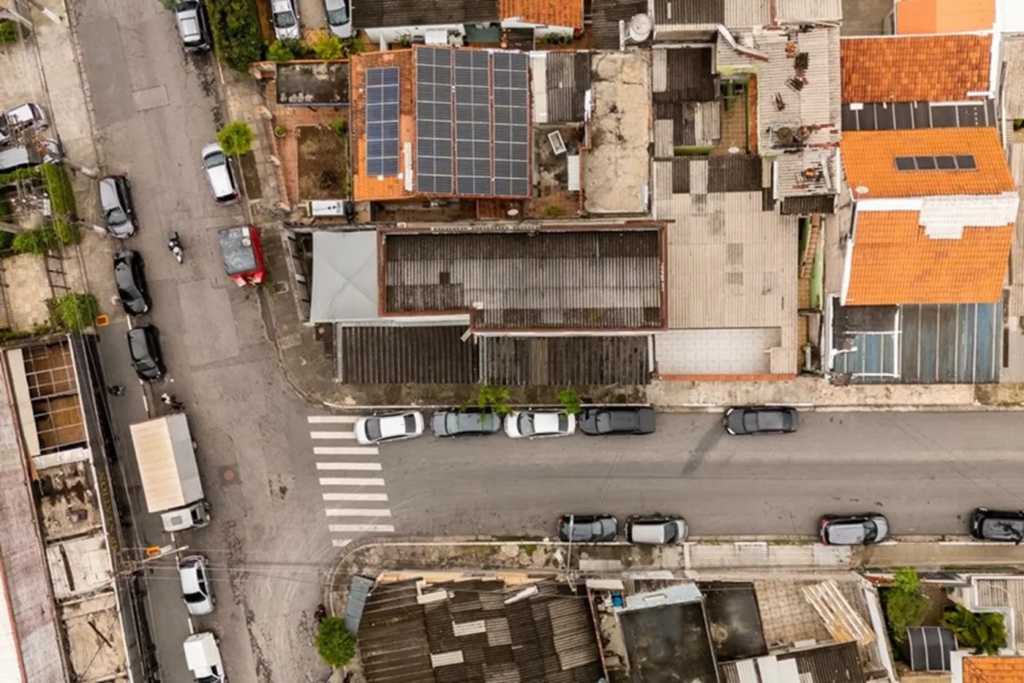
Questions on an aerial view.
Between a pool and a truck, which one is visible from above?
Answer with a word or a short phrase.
truck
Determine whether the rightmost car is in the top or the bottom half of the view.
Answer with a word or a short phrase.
bottom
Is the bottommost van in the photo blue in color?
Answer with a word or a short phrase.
No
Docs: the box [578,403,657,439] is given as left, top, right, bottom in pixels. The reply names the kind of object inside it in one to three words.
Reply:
truck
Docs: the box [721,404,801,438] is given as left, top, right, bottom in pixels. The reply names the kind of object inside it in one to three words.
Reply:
car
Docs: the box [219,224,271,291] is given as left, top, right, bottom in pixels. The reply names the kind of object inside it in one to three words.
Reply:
van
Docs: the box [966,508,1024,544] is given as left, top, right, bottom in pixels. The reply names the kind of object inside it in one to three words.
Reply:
car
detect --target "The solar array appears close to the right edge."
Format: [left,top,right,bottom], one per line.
[895,156,977,171]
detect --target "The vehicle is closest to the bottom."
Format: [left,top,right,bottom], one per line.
[181,623,241,683]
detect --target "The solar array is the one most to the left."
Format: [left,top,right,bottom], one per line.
[366,67,399,176]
